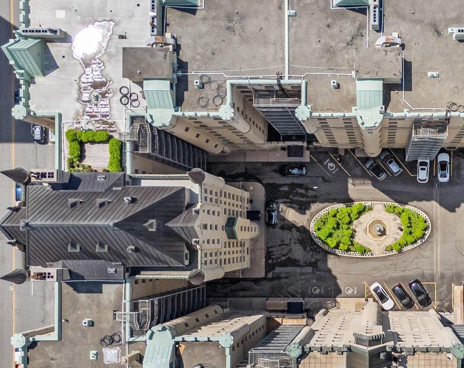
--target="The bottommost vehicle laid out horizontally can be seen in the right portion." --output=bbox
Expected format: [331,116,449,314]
[277,163,307,177]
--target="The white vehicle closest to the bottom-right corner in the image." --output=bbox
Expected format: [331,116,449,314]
[369,280,396,312]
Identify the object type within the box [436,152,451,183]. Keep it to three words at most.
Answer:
car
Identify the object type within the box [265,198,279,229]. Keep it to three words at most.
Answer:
car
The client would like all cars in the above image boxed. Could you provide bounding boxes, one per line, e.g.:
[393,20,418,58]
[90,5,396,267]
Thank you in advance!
[408,279,432,309]
[390,282,414,312]
[417,158,431,185]
[379,147,403,176]
[277,163,307,177]
[364,155,388,184]
[265,198,279,229]
[11,82,22,107]
[436,152,451,183]
[30,122,46,149]
[369,280,396,312]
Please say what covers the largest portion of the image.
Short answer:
buildings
